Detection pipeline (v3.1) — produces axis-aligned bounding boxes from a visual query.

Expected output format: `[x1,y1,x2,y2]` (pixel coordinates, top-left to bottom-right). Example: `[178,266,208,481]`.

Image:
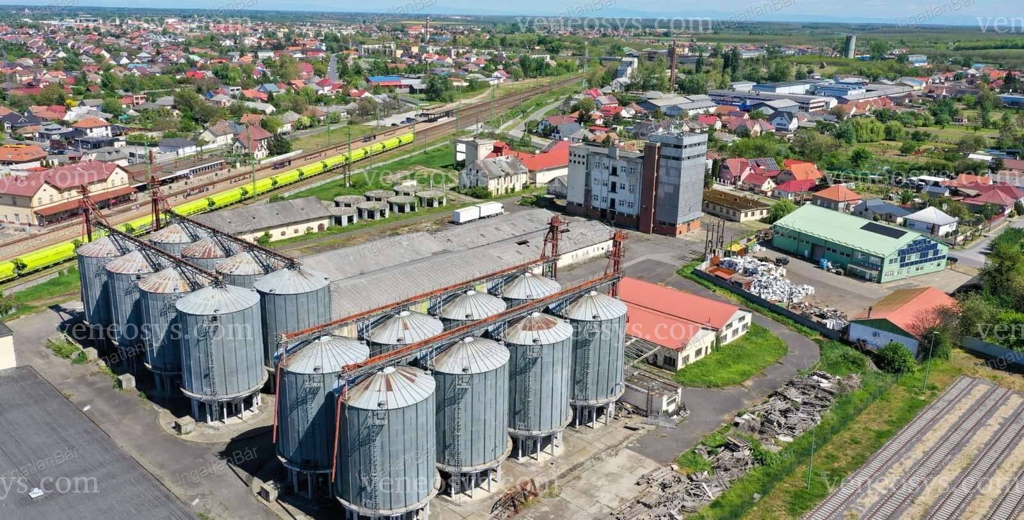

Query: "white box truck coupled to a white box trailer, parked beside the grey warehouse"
[451,202,506,224]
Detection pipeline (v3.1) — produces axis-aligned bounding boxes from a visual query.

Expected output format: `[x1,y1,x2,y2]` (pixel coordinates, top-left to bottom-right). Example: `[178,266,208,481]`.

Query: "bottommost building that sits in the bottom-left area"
[0,364,200,520]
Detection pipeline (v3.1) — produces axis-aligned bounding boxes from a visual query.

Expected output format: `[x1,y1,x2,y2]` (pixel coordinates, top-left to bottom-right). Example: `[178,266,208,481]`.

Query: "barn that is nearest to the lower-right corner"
[846,285,941,352]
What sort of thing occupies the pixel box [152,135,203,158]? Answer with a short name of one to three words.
house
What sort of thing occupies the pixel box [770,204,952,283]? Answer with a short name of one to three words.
building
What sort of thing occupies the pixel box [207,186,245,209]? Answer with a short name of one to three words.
rail car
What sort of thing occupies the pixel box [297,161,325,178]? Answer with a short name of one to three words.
rail car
